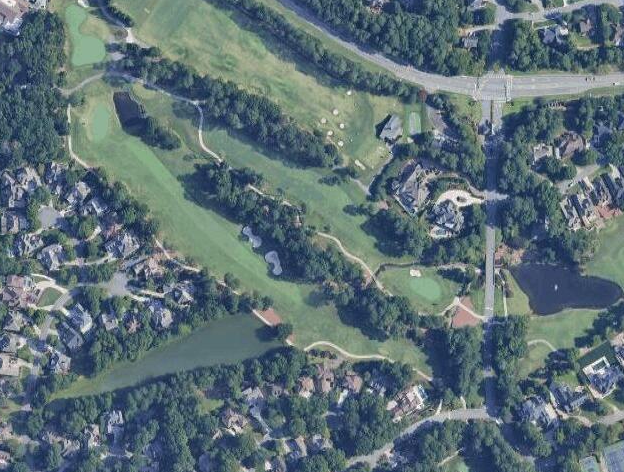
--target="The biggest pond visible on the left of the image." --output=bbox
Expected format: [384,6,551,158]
[67,313,288,399]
